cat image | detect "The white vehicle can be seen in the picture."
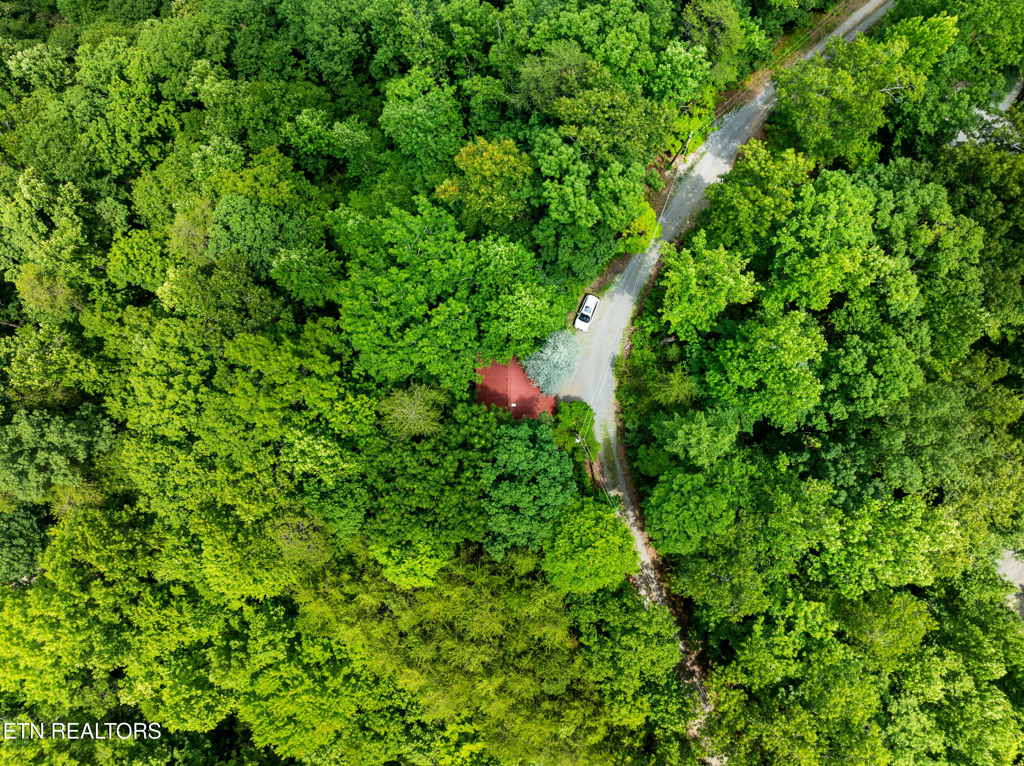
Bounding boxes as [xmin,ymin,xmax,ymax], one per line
[575,294,600,332]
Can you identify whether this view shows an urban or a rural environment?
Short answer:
rural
